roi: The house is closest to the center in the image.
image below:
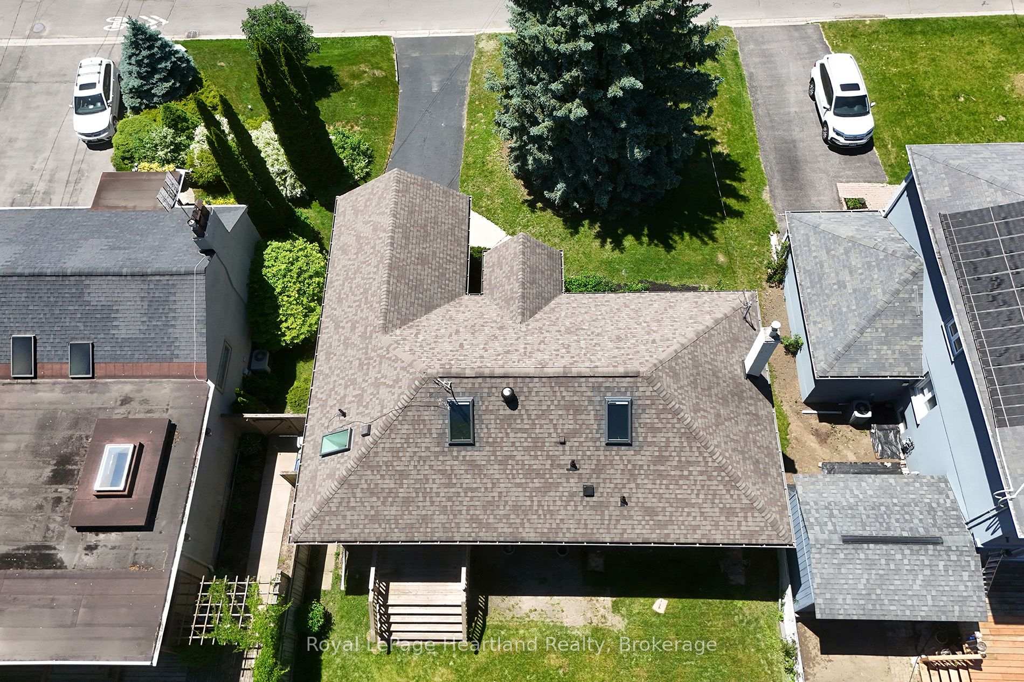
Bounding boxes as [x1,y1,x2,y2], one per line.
[287,169,797,590]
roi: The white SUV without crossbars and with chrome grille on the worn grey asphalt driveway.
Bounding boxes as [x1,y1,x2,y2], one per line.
[807,56,877,146]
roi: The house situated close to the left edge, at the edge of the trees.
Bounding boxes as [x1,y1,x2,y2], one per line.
[0,170,256,675]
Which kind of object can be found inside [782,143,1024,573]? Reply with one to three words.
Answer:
house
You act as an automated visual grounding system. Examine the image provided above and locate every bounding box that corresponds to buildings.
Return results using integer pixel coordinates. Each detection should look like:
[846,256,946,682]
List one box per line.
[782,143,1024,573]
[287,169,797,590]
[0,170,256,675]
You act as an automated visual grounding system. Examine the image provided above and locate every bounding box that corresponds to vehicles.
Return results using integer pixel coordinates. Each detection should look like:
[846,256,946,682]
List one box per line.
[807,56,877,146]
[63,53,123,141]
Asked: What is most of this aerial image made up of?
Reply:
buildings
